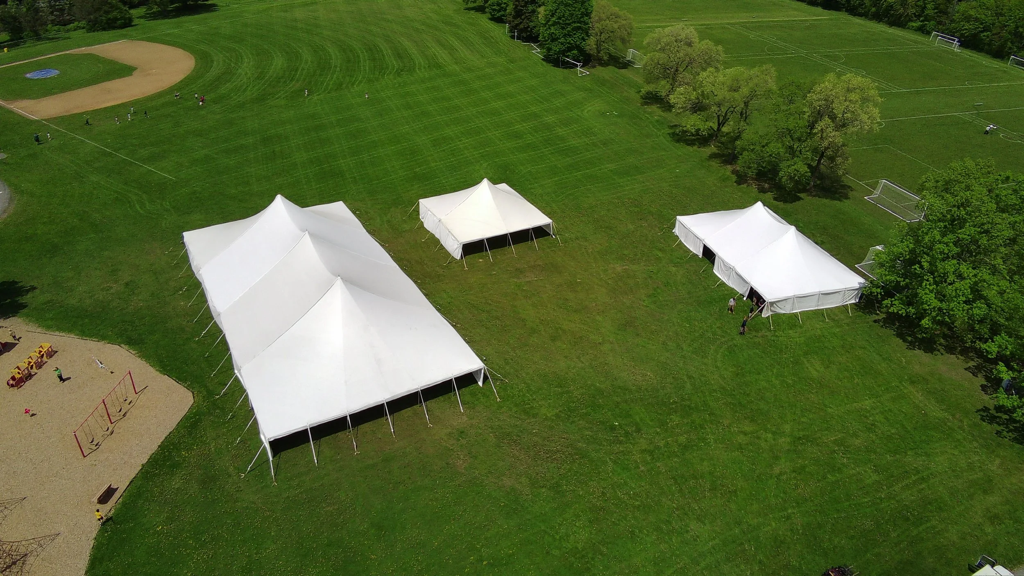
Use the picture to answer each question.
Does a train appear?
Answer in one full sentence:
Yes, there's a train here.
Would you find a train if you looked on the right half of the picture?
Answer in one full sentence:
No, the scene shows no train on the right half of the picture.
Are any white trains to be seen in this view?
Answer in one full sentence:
No, I can't see a single white train in this photo.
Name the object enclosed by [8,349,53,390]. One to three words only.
train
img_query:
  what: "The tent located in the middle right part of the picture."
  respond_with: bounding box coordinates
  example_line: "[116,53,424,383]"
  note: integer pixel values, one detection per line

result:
[661,201,880,331]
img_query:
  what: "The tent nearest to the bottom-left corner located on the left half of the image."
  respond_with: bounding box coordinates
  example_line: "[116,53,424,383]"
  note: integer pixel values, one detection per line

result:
[165,194,504,486]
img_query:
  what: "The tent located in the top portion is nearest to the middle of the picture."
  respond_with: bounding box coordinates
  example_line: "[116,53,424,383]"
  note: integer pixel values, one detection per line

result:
[403,177,564,269]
